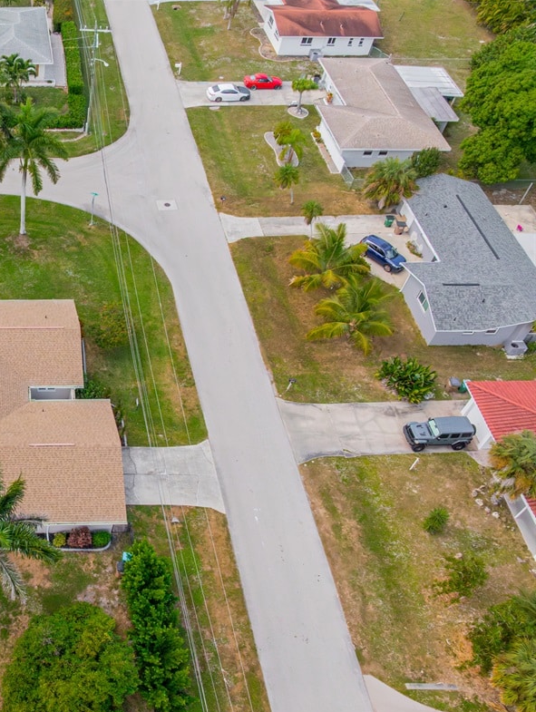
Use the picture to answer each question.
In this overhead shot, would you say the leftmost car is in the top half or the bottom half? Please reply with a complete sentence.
It is in the top half that the leftmost car appears.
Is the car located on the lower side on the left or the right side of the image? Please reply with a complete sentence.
You can find the car located on the lower side on the right side of the picture.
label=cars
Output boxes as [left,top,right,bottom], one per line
[405,415,482,450]
[242,69,286,87]
[205,79,254,99]
[358,233,411,275]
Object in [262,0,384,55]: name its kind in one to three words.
house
